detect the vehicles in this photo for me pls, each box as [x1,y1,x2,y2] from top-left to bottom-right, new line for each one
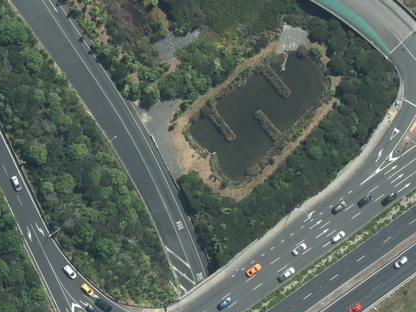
[292,242,307,256]
[246,264,262,277]
[332,202,347,215]
[348,304,363,312]
[330,230,346,244]
[62,264,77,280]
[278,268,296,282]
[84,304,99,312]
[80,282,95,296]
[382,193,398,206]
[95,298,112,312]
[10,175,22,191]
[357,194,373,208]
[394,256,409,268]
